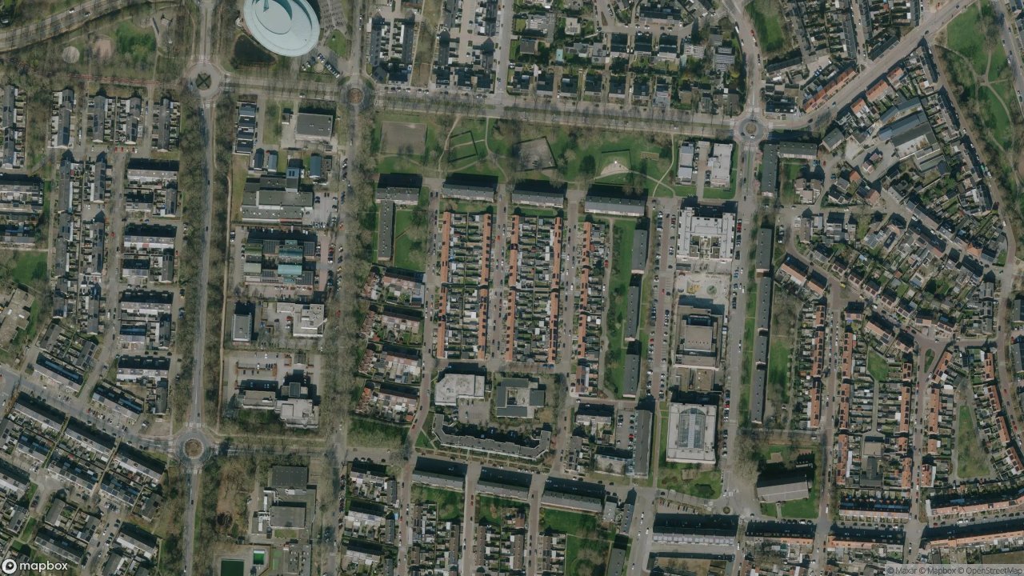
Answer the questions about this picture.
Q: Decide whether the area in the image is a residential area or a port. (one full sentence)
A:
This looks like a residential area.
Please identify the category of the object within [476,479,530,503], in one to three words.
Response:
building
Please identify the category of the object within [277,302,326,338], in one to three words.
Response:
building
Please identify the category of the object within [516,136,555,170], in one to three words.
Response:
sports field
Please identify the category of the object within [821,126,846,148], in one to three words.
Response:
house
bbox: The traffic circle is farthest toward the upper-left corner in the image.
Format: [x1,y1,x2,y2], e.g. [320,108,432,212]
[187,63,224,100]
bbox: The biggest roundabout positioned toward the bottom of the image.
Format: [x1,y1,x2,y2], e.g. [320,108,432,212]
[171,427,214,469]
